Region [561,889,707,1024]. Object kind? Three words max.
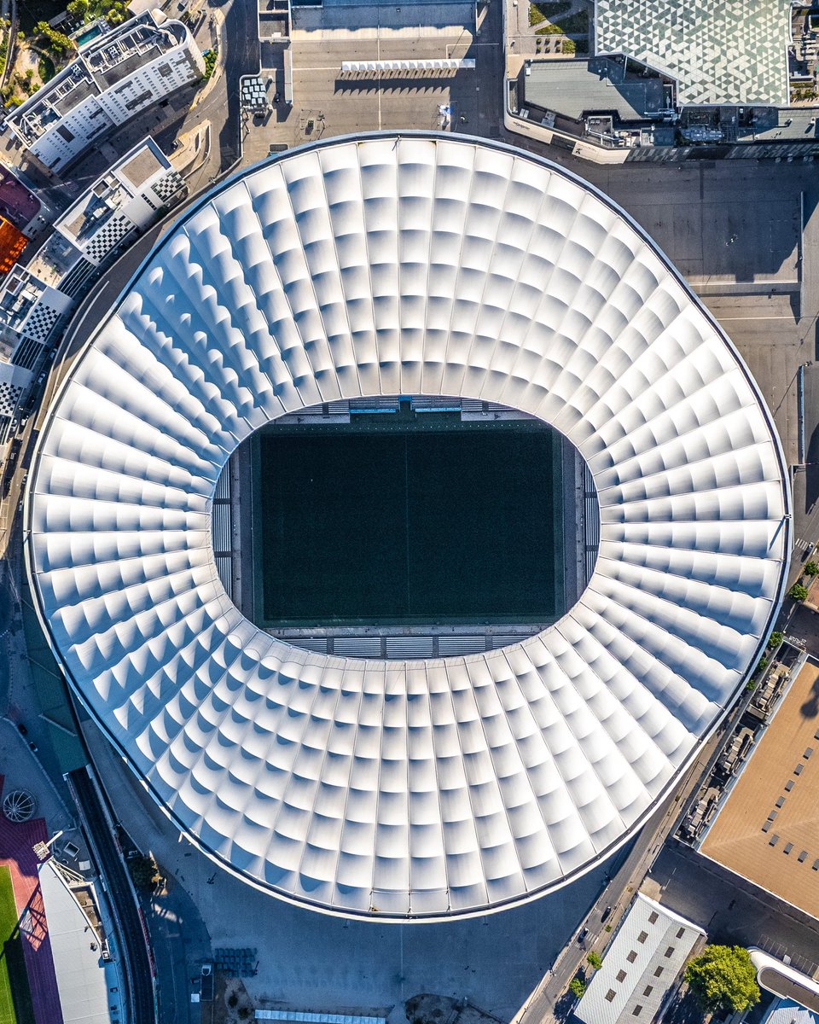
building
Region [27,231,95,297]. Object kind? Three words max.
building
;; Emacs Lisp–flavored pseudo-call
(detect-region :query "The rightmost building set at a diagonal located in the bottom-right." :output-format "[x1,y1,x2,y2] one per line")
[745,945,819,1014]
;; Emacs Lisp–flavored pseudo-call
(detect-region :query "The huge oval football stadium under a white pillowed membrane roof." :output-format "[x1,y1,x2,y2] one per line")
[22,128,796,926]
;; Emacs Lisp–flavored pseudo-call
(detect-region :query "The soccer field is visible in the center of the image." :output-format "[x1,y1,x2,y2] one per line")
[242,406,578,640]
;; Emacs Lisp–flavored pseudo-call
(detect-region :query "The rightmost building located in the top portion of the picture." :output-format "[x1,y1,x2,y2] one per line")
[500,0,819,164]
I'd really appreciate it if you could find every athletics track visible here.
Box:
[0,772,64,1024]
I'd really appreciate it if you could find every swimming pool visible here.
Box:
[72,17,109,51]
